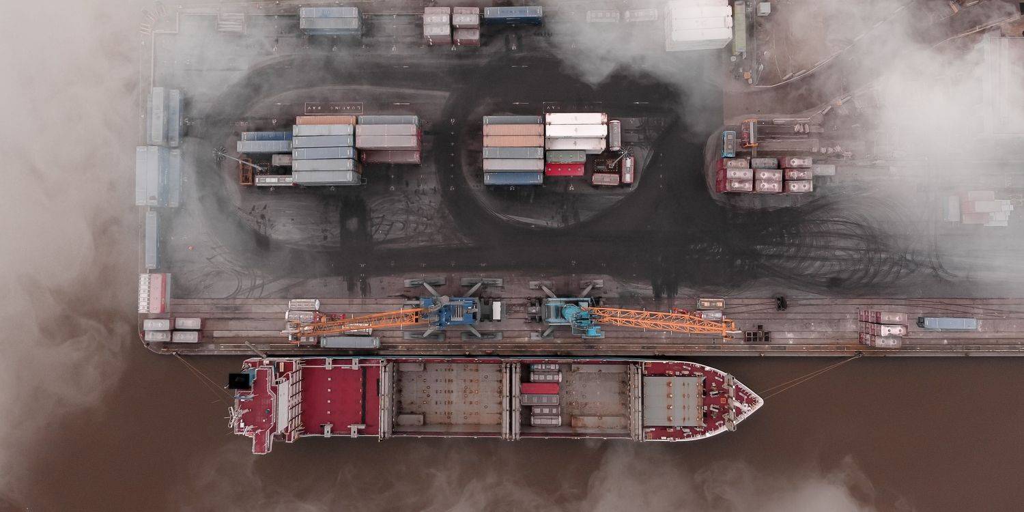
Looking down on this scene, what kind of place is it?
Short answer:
port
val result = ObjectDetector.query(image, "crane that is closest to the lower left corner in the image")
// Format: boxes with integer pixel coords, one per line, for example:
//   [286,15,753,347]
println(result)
[285,278,505,342]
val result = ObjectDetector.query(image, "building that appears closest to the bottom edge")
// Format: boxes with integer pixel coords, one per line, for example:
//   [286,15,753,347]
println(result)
[964,35,1024,141]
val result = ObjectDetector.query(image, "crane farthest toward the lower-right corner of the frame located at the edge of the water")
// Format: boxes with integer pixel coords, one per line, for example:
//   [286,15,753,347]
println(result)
[527,280,737,339]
